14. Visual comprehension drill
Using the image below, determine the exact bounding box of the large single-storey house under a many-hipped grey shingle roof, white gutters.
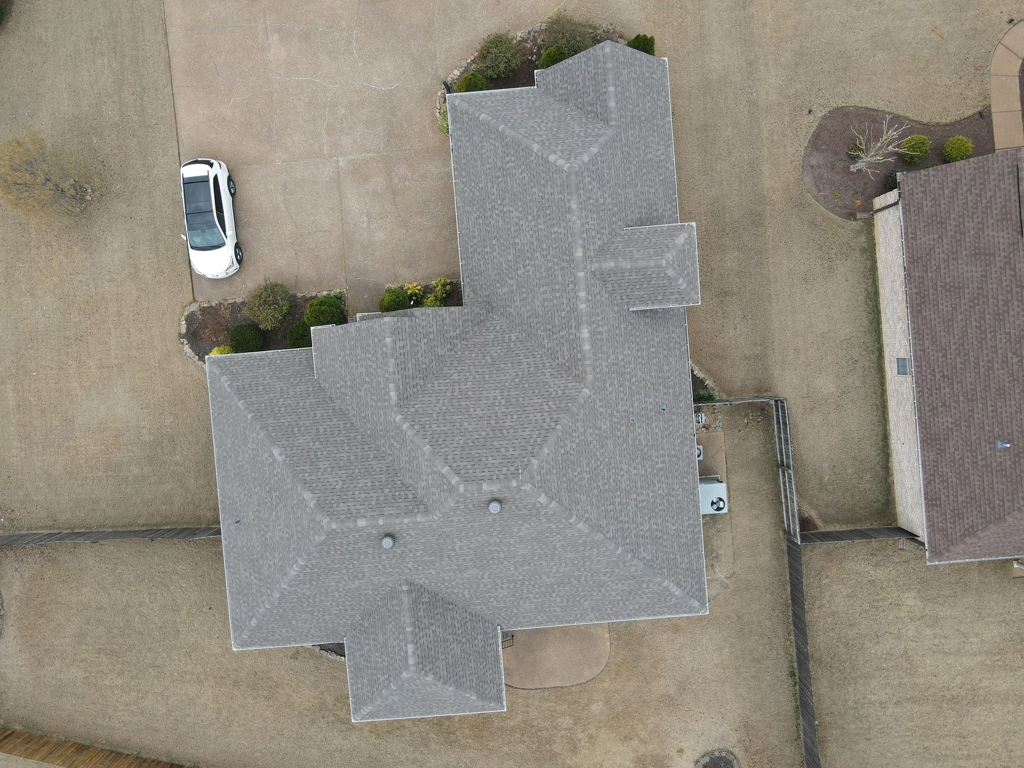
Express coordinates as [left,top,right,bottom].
[205,38,708,722]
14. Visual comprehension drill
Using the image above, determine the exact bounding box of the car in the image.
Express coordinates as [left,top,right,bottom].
[177,158,242,279]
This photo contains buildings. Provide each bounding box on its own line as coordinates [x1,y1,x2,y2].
[205,38,708,722]
[869,149,1024,579]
